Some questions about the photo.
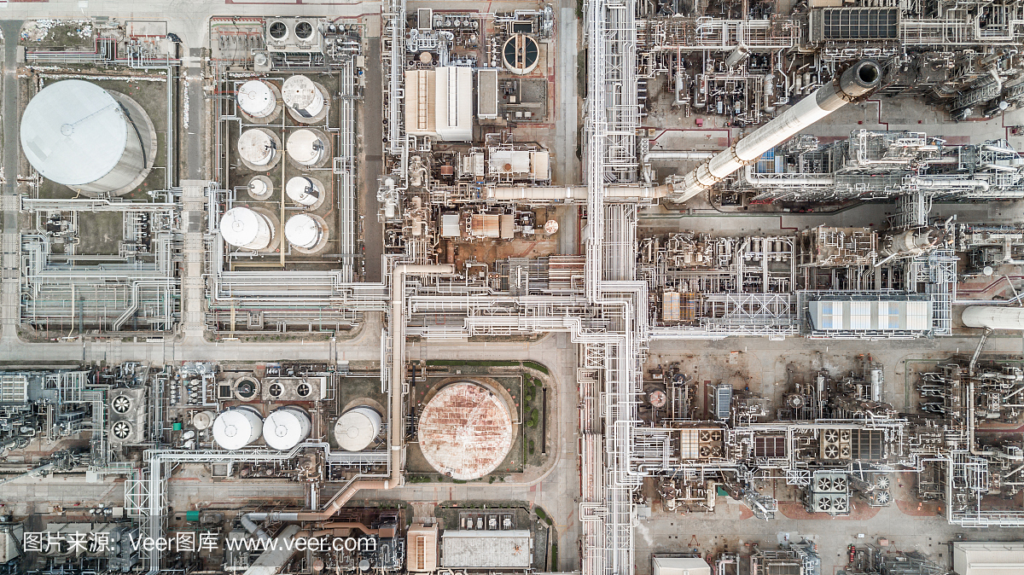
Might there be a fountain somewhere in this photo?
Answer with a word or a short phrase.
No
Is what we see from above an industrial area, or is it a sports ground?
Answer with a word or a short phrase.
industrial area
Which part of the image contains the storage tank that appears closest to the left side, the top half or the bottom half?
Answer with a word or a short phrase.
top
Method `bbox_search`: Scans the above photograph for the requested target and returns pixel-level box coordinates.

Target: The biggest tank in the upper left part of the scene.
[18,78,157,198]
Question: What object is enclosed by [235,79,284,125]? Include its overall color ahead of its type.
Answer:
white storage tank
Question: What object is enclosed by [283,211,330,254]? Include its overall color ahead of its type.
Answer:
white storage tank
